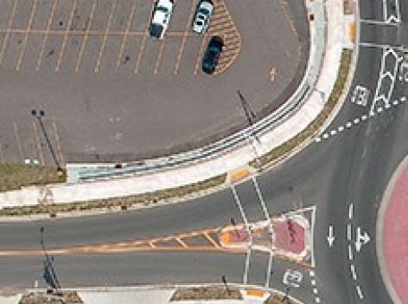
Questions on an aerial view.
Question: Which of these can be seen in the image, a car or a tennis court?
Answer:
car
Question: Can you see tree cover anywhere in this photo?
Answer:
No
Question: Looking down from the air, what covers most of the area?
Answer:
paved ground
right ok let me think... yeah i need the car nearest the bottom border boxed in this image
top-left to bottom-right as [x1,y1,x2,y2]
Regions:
[202,37,223,72]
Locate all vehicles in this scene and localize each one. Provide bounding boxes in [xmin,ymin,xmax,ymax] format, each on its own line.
[149,0,174,39]
[202,37,223,72]
[191,0,214,35]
